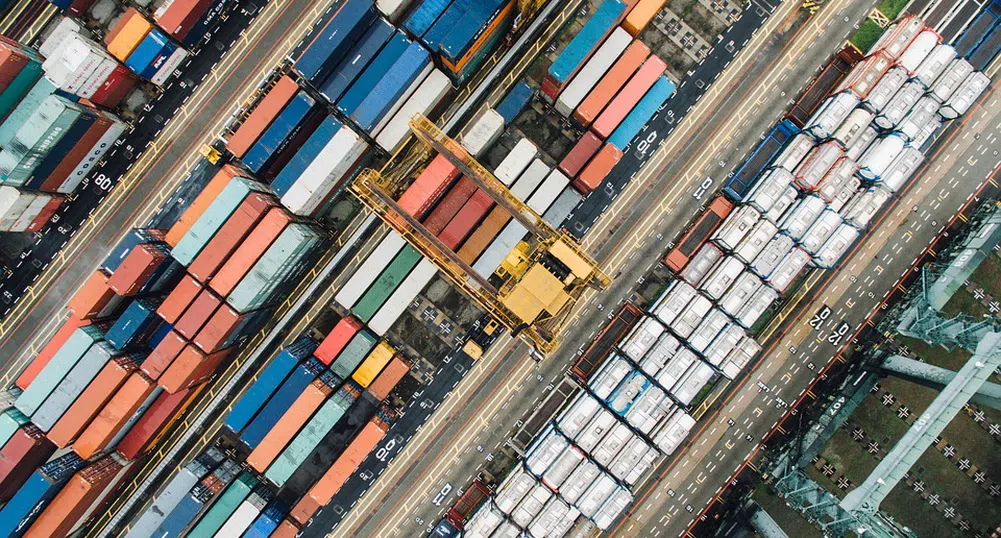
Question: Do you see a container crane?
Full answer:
Yes, you can see a container crane in this photo.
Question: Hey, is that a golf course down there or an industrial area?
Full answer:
The picture captures an industrial area.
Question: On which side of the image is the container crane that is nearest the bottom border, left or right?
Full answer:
It is on the right.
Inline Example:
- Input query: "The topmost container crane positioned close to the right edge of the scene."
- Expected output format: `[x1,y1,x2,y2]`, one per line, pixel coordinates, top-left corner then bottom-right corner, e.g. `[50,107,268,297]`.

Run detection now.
[882,173,1001,353]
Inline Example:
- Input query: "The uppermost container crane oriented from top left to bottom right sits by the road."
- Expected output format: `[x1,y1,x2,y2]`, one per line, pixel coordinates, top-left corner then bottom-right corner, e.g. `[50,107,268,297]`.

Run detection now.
[350,109,611,356]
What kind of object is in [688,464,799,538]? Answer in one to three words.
container crane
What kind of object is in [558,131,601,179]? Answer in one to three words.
shipping container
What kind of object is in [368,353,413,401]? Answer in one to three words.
shipping container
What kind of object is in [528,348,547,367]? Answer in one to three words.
vehicle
